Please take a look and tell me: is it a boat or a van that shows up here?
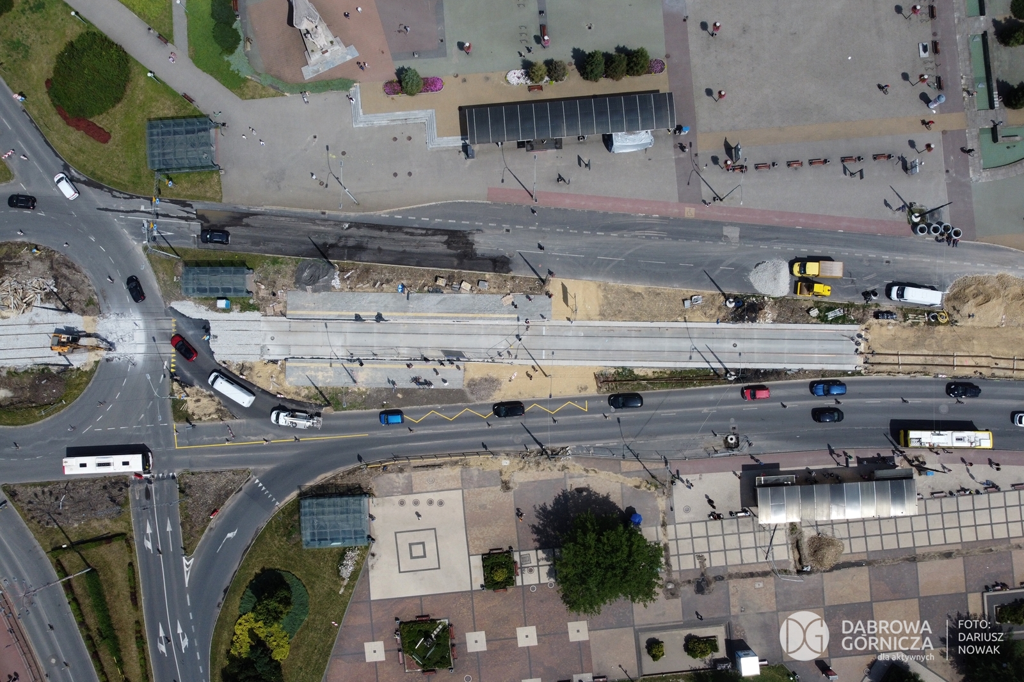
van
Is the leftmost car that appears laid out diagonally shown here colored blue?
No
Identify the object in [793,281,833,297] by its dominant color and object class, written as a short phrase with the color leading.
yellow work vehicle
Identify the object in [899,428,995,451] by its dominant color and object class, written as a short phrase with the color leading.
white bus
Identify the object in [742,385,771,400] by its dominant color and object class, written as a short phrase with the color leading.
red car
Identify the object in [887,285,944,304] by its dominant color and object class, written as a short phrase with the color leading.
white vehicle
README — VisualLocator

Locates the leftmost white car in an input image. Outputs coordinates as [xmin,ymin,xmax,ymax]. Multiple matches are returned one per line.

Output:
[54,172,81,201]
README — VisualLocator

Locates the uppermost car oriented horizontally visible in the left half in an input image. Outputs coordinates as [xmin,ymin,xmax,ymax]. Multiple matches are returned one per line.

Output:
[7,194,39,209]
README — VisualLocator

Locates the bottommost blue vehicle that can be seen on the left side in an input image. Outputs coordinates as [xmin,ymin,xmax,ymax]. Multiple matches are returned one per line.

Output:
[379,410,405,425]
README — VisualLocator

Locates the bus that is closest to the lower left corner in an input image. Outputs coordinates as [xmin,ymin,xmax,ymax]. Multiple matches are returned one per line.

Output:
[62,451,157,474]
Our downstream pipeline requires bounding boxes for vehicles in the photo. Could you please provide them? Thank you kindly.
[126,274,147,305]
[887,285,944,304]
[212,372,255,407]
[493,401,525,417]
[54,172,81,201]
[789,260,846,277]
[1010,412,1024,425]
[810,380,846,396]
[7,194,39,209]
[946,382,982,397]
[62,451,157,474]
[200,228,233,244]
[899,428,995,451]
[172,334,199,362]
[608,393,642,409]
[742,385,771,400]
[272,408,328,429]
[379,410,405,425]
[50,333,113,353]
[793,281,833,297]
